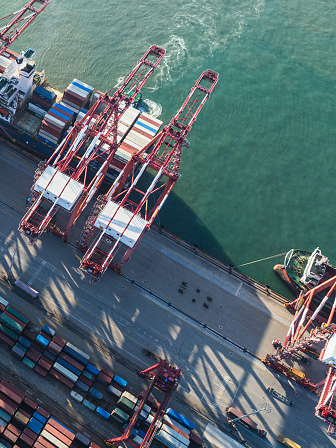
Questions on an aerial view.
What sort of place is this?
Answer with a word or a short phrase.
port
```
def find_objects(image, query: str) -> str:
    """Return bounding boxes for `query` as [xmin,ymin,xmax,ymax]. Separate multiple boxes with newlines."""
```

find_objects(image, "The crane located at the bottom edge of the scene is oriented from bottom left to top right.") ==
[96,359,179,448]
